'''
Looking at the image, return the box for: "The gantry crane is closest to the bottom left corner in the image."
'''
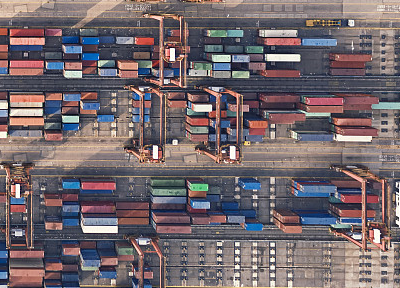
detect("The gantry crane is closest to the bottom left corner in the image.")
[0,165,38,248]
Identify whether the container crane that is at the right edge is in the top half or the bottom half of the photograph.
bottom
